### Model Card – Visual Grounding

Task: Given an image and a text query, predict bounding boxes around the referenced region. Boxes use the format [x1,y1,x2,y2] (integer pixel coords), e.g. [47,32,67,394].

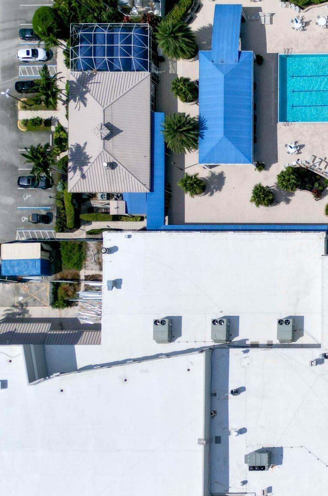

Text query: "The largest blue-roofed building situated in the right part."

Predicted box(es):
[199,50,259,168]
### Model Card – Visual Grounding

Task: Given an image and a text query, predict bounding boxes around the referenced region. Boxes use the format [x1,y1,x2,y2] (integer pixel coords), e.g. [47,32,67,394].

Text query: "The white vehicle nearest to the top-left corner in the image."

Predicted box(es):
[13,45,46,62]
